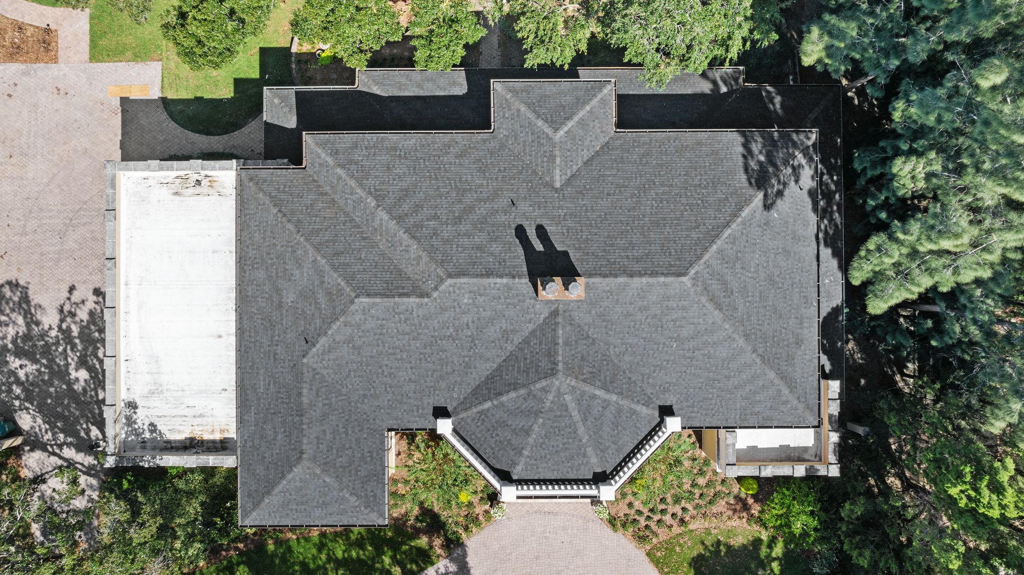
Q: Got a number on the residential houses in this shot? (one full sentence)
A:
Only 1 residential house is visible.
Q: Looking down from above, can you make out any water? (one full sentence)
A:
No, there's no water in this view.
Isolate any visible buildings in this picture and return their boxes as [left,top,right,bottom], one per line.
[91,67,843,529]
